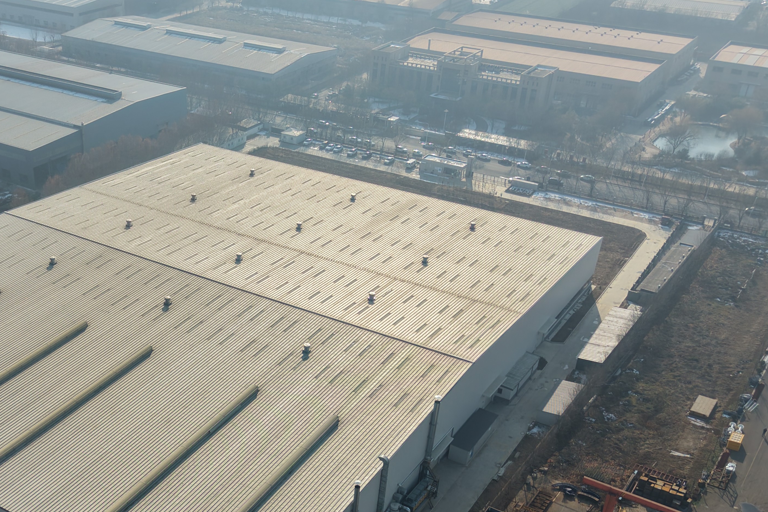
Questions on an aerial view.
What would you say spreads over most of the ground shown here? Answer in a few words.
buildings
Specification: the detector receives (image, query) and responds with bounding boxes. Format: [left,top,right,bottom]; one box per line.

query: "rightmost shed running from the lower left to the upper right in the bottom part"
[575,307,640,376]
